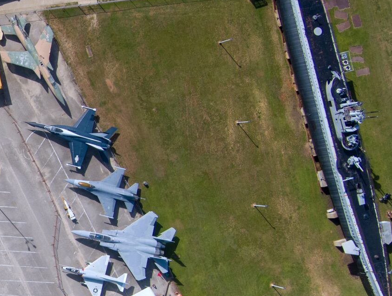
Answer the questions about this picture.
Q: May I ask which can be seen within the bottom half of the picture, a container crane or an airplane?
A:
airplane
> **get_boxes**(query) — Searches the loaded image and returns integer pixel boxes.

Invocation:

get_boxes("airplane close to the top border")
[0,10,65,104]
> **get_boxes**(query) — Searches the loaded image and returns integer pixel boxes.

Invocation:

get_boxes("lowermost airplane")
[57,257,130,296]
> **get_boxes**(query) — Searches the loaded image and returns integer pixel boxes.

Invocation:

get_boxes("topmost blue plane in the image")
[26,103,117,168]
